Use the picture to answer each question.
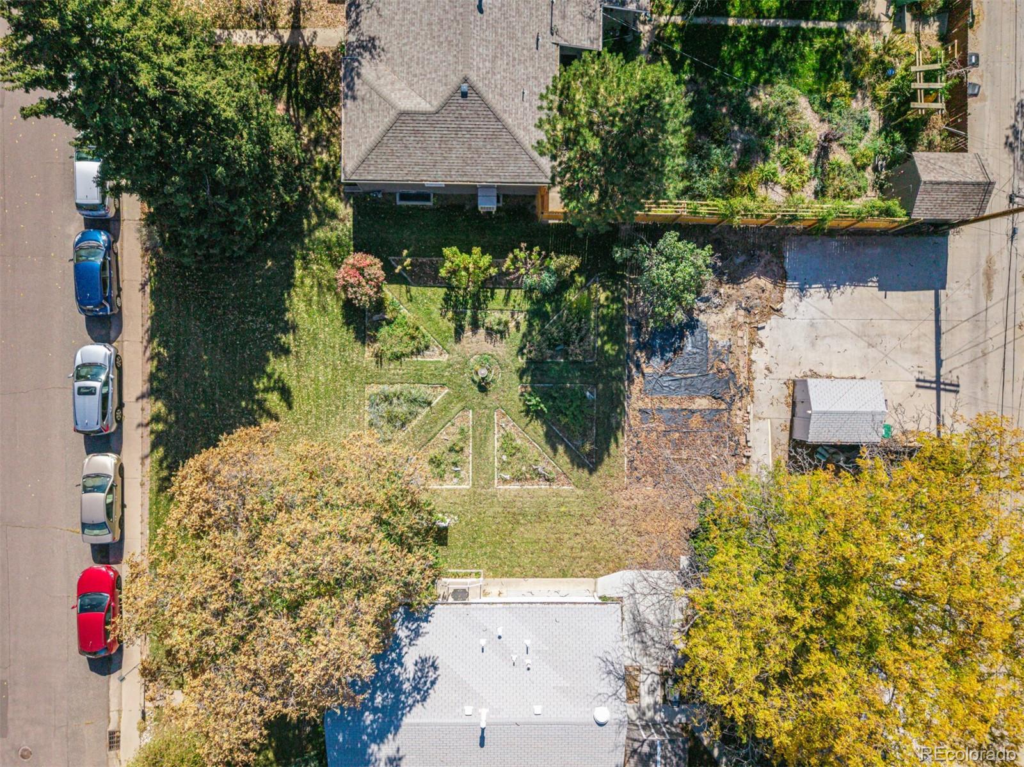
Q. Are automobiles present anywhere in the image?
Yes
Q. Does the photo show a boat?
No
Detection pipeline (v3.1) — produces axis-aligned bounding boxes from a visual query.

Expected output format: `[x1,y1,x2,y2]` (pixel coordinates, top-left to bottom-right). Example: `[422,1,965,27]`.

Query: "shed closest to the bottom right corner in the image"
[791,378,890,443]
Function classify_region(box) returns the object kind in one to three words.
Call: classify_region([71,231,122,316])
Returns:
car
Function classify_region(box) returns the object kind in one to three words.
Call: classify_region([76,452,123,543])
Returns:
car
